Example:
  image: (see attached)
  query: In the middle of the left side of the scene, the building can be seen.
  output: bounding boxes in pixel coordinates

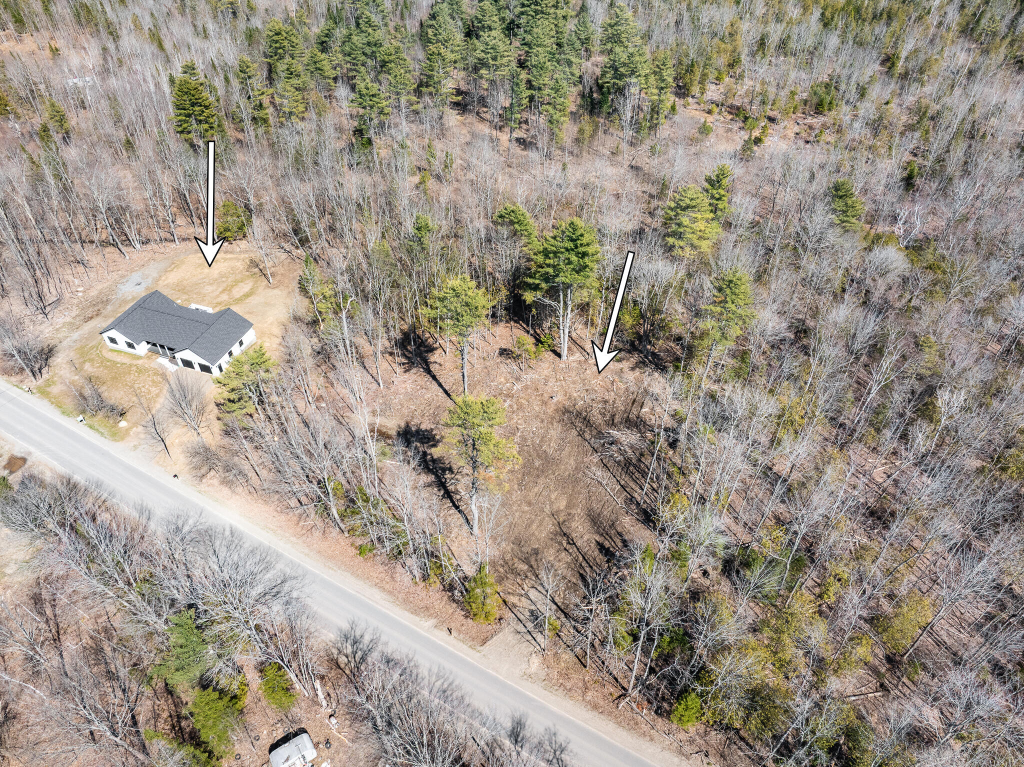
[100,291,255,377]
